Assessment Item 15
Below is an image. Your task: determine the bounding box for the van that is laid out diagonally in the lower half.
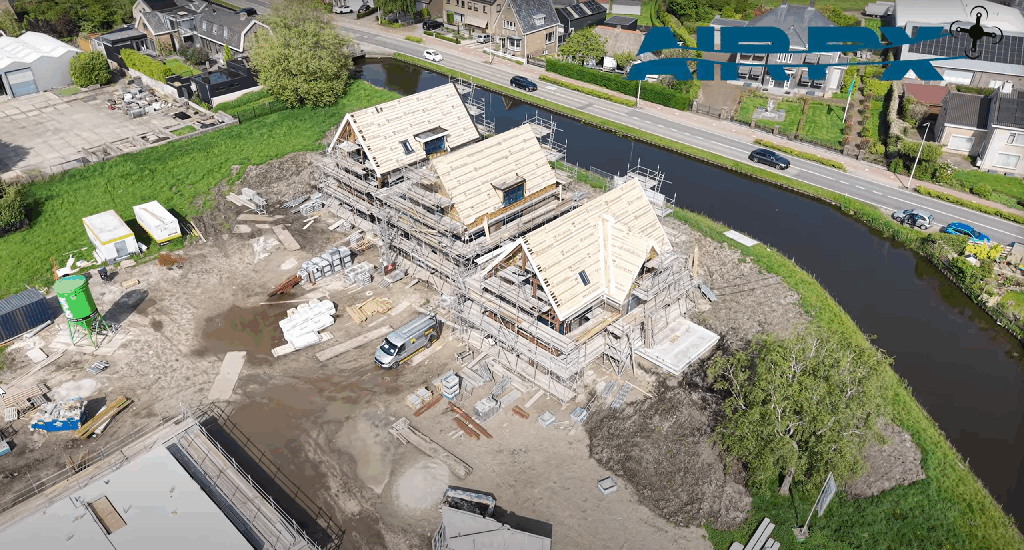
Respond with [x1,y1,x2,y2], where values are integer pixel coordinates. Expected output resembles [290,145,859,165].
[367,310,440,374]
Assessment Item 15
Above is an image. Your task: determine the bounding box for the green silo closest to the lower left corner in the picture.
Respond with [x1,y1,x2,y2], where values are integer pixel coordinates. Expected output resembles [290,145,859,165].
[58,280,123,346]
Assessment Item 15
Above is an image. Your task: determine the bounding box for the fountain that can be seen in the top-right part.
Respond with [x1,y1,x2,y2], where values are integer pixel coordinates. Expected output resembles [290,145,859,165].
[755,101,786,120]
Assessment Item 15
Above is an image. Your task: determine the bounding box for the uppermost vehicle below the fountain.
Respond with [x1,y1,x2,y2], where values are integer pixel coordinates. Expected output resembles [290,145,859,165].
[749,145,794,170]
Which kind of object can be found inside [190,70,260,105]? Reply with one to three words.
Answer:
building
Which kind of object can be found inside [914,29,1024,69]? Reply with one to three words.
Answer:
solar array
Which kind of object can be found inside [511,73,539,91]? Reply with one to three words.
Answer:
car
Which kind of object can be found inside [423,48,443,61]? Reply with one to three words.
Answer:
vehicle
